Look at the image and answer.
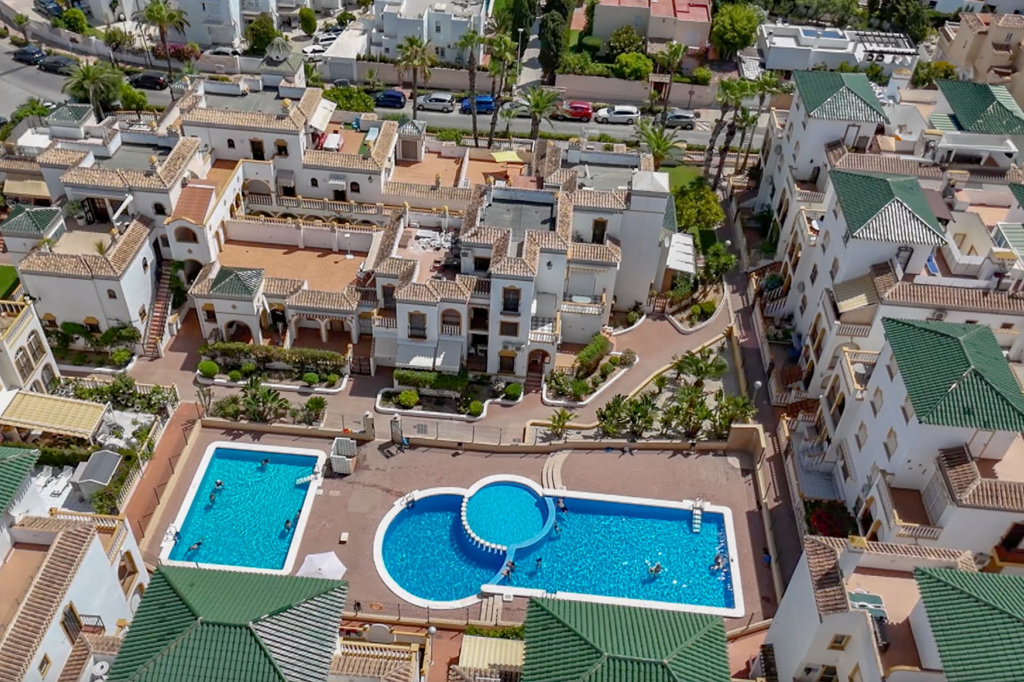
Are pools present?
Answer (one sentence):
Yes, a pool appears in the view.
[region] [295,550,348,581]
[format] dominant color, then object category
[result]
white umbrella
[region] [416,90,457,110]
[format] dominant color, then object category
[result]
gray car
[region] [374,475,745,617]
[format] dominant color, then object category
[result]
blue swimming pool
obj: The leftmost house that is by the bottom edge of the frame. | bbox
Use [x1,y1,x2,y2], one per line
[0,510,148,682]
